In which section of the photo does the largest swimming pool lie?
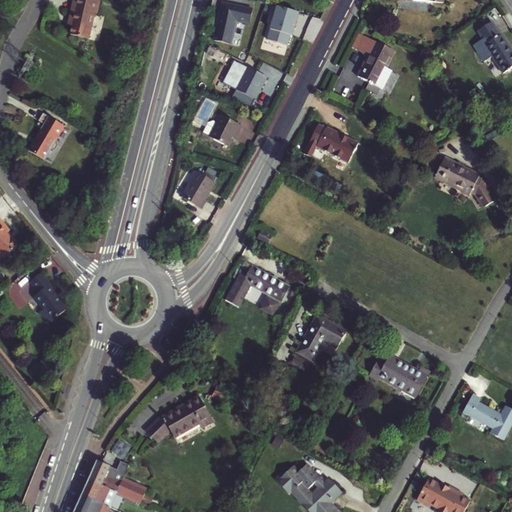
top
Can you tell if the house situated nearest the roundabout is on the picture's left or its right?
left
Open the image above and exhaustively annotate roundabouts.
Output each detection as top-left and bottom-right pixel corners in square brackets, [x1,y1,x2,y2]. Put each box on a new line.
[82,257,178,352]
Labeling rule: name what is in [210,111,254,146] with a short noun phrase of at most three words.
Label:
house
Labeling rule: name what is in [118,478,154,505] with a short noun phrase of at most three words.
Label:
barn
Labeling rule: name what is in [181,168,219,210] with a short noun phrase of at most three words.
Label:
house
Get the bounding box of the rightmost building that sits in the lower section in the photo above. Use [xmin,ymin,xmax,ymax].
[462,394,512,442]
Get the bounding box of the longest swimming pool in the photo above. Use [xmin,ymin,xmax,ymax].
[192,98,218,128]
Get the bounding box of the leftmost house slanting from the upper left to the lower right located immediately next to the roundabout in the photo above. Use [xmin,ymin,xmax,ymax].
[18,276,63,322]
